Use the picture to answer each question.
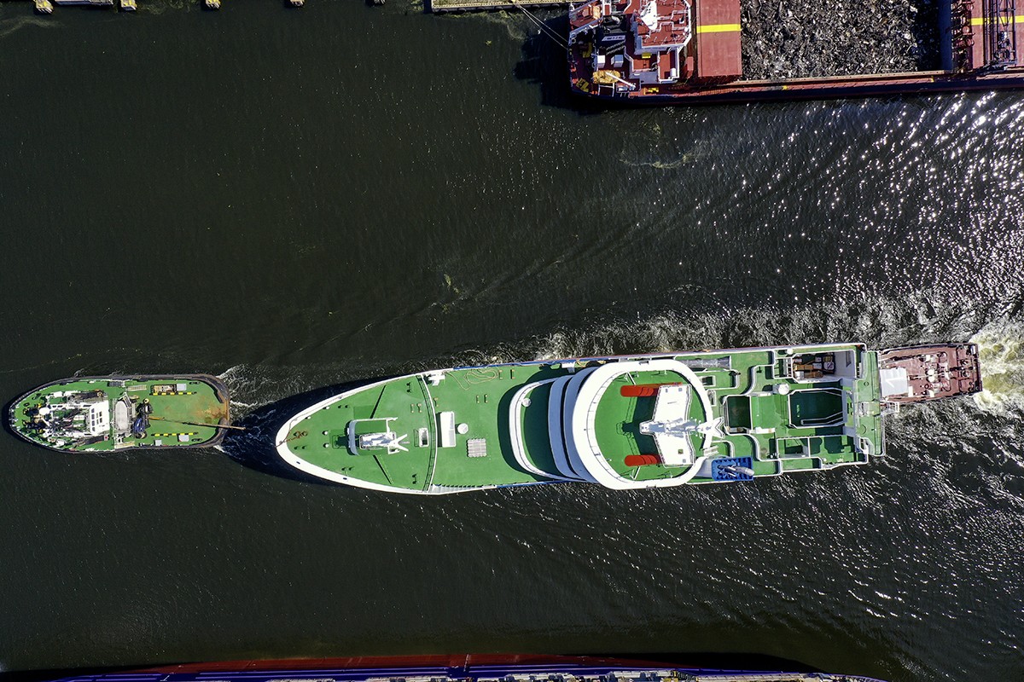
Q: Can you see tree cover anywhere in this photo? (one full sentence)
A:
No, there is no tree cover in the image.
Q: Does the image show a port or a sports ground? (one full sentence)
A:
This looks like a port.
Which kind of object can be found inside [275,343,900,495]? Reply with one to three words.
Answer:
ship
